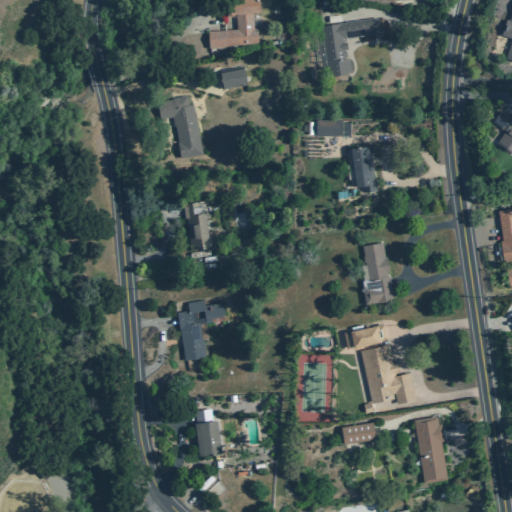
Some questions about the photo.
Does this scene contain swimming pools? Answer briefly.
Yes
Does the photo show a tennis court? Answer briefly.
Yes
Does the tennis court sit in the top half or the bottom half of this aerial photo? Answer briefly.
bottom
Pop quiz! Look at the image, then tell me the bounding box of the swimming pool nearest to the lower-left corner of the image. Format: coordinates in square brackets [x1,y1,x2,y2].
[242,416,262,448]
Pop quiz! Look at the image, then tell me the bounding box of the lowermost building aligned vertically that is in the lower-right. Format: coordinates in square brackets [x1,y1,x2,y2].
[416,416,448,483]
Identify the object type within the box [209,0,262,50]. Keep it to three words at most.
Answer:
house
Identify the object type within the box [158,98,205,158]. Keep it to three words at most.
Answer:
house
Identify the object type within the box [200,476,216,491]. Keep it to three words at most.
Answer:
camper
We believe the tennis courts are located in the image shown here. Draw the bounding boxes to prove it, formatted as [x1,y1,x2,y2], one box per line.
[298,354,334,422]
